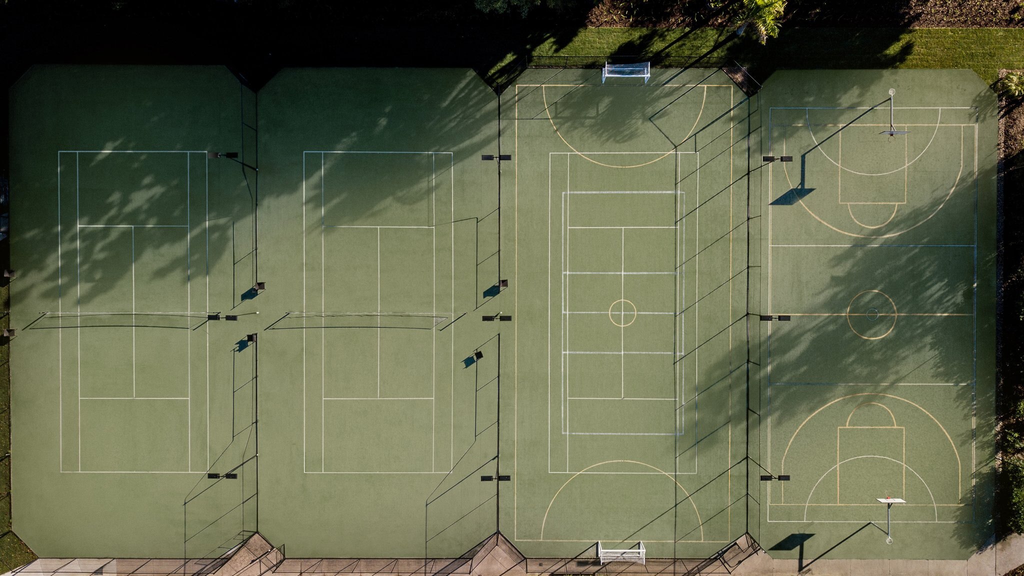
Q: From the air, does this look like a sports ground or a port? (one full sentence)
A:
It's a sports ground.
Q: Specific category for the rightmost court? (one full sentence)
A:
The rightmost court is a basketball court.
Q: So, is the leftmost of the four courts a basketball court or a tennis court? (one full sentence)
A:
I'd say the leftmost of the four courts is a tennis court.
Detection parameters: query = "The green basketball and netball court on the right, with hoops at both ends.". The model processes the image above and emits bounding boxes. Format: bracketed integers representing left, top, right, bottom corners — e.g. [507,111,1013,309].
[749,69,998,560]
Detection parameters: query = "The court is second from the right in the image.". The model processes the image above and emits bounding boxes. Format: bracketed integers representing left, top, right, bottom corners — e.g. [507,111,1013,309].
[499,68,749,559]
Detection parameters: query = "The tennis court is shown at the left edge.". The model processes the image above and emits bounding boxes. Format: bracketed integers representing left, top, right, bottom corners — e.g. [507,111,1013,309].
[10,65,257,559]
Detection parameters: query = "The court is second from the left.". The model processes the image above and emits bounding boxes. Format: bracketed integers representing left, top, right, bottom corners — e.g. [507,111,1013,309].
[257,67,499,558]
